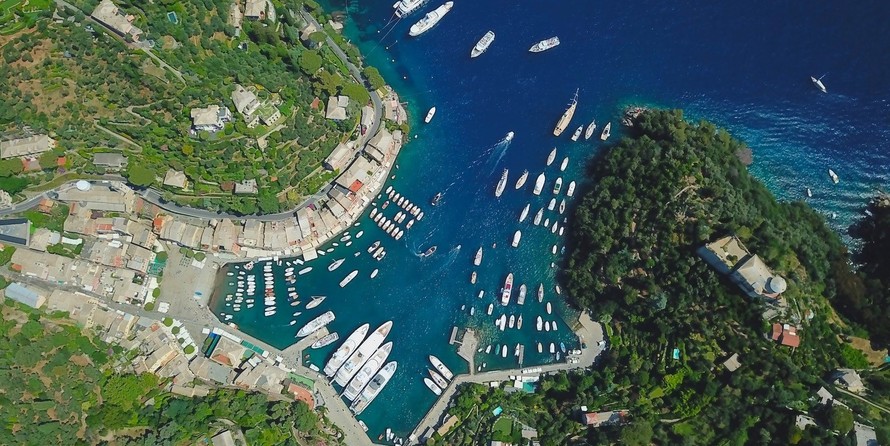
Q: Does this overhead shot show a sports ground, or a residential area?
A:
residential area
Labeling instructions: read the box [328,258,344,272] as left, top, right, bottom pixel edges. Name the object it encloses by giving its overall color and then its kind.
white boat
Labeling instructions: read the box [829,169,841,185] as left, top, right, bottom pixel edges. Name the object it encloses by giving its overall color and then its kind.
white boat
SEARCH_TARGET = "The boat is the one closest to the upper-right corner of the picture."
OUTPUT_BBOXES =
[812,76,837,93]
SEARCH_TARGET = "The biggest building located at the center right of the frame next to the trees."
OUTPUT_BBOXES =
[694,235,788,299]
